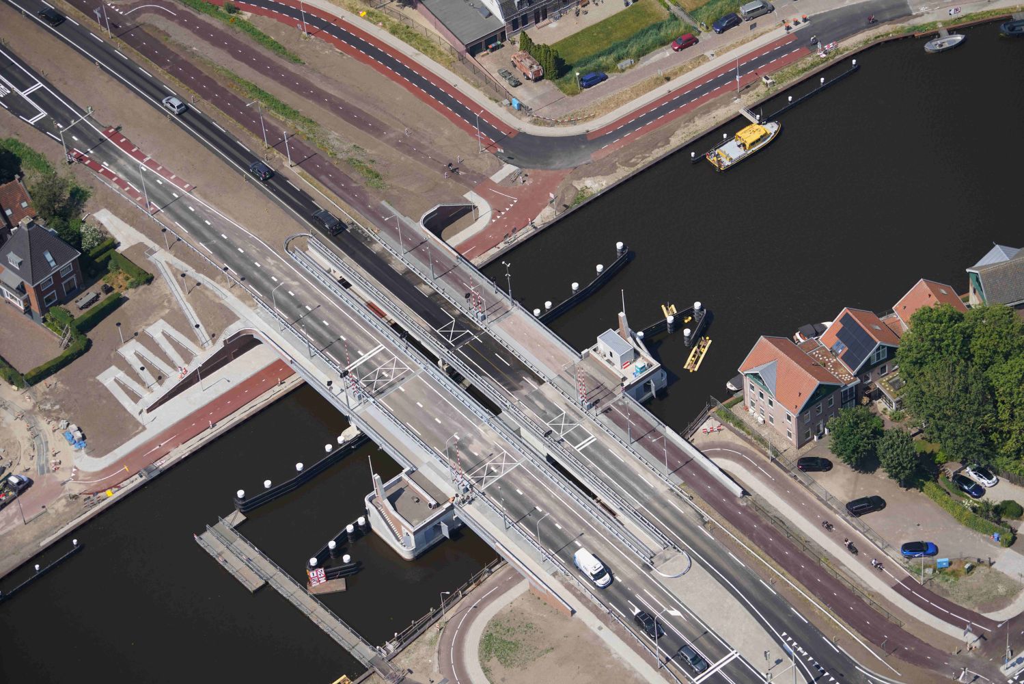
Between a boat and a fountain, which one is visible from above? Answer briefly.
boat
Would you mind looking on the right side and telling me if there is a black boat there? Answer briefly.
Yes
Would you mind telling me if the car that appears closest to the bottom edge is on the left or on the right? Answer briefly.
right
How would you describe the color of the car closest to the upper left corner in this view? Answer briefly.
black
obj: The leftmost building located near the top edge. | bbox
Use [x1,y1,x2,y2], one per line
[432,0,506,57]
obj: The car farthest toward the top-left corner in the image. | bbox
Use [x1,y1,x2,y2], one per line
[34,4,68,29]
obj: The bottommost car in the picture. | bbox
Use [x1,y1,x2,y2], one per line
[671,641,714,675]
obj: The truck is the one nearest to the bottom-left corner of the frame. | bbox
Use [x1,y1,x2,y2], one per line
[0,471,34,507]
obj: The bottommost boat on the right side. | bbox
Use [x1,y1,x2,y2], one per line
[722,368,741,392]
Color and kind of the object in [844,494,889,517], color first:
black car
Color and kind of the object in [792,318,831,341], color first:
black boat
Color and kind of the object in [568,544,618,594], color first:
white van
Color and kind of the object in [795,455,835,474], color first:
black car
